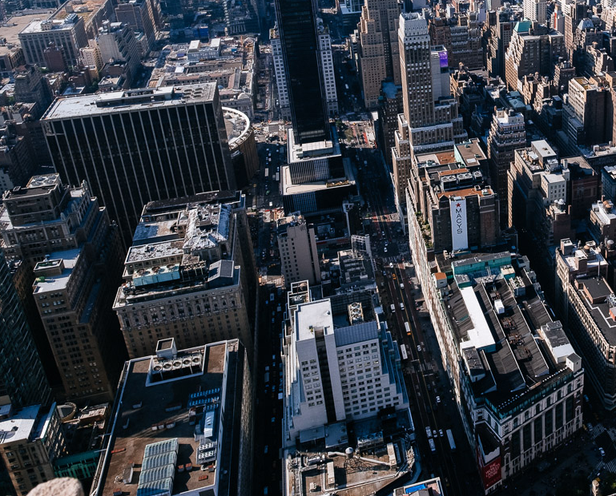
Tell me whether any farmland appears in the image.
No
